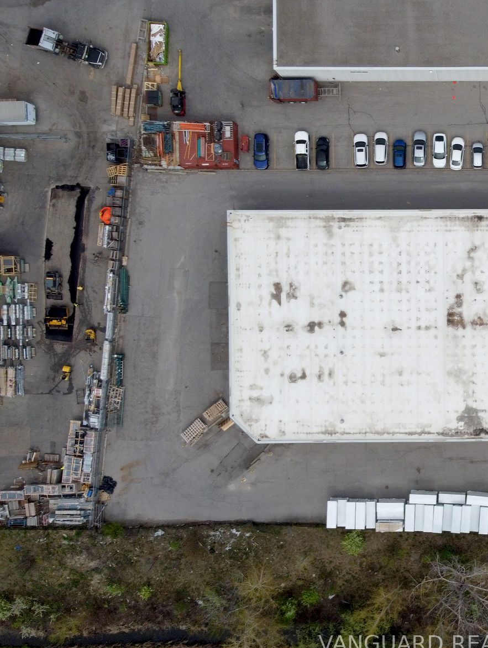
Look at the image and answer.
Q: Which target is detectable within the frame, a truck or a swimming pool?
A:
truck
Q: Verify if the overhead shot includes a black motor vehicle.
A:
Yes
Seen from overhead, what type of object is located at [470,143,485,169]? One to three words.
car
